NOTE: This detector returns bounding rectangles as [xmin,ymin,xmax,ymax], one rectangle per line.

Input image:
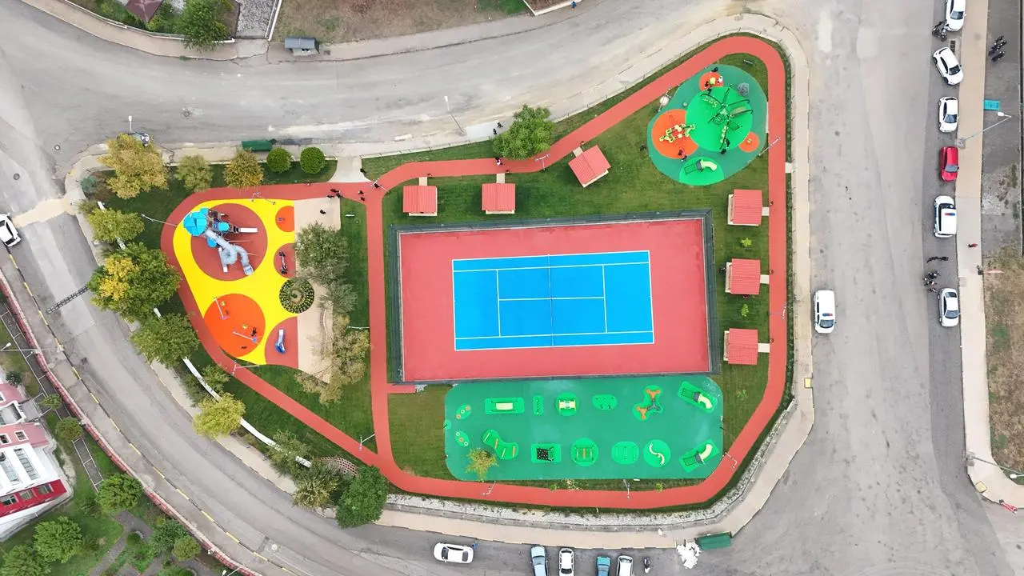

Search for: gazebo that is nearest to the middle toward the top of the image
[482,181,515,214]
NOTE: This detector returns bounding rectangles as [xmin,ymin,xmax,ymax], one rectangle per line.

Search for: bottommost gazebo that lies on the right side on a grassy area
[724,328,762,363]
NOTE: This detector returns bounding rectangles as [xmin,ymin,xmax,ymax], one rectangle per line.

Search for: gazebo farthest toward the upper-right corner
[729,189,766,224]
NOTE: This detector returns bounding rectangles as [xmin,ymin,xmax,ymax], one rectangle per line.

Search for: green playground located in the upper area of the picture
[647,64,767,185]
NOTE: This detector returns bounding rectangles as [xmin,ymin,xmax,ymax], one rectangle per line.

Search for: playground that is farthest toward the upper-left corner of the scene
[175,199,298,369]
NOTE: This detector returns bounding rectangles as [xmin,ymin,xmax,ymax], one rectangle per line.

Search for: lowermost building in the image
[0,385,70,529]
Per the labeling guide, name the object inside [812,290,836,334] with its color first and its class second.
white vehicle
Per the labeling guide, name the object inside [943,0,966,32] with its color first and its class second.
white car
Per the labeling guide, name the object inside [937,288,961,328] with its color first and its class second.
white car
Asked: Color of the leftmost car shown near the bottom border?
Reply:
white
